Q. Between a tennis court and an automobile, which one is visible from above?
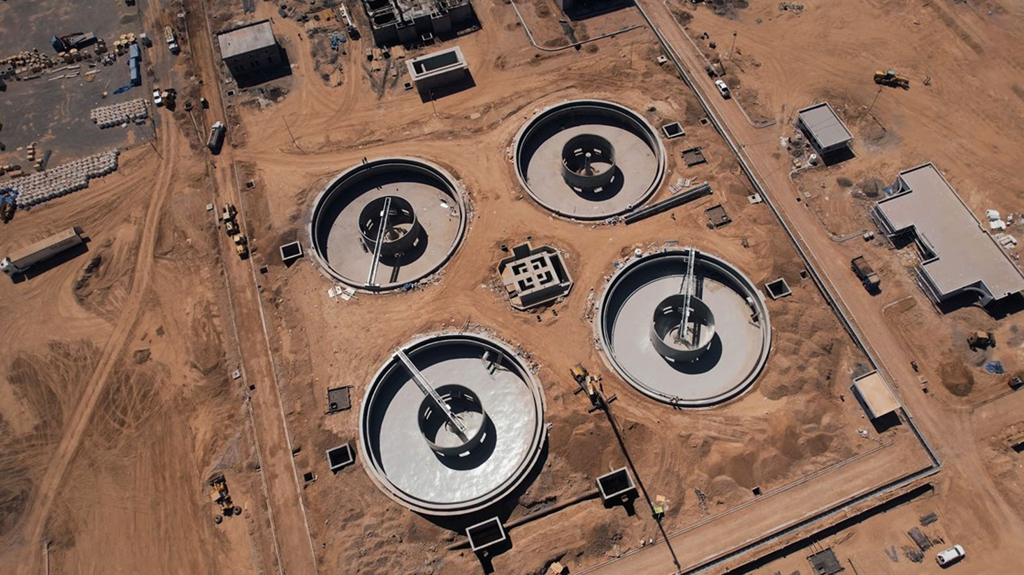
automobile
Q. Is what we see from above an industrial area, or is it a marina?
industrial area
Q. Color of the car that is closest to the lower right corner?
white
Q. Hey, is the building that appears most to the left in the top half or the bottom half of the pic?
top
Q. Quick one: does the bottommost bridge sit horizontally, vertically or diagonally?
diagonally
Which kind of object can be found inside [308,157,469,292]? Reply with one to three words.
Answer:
storage tank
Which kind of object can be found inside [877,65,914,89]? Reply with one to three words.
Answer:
work vehicle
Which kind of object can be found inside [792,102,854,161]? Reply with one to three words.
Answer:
building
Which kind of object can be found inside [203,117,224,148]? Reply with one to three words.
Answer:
truck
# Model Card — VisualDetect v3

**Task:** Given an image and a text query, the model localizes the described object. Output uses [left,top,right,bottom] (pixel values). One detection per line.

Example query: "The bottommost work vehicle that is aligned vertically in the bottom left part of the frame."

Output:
[210,475,231,514]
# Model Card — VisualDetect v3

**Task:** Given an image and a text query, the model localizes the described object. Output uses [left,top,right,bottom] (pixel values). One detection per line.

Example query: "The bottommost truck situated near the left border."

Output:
[0,224,91,278]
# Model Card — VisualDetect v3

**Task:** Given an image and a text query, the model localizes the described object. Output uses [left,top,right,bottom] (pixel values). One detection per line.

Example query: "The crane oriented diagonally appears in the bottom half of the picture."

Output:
[571,360,624,440]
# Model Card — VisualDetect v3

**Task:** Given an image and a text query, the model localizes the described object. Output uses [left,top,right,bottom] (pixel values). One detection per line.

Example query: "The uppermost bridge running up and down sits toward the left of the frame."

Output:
[363,196,395,288]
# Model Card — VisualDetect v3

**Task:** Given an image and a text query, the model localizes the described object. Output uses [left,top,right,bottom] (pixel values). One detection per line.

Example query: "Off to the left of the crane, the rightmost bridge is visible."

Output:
[390,345,466,432]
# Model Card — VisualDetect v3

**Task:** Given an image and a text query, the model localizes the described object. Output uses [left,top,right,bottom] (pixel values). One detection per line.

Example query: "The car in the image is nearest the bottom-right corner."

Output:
[932,542,970,566]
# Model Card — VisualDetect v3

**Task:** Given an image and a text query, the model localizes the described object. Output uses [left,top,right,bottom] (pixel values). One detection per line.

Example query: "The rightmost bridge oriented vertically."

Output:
[679,244,701,338]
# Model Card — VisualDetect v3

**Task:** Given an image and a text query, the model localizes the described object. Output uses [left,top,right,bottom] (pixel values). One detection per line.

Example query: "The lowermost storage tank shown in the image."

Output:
[355,333,548,519]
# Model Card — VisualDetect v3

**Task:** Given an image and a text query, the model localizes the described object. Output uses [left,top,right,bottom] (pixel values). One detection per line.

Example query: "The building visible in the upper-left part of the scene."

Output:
[217,19,284,78]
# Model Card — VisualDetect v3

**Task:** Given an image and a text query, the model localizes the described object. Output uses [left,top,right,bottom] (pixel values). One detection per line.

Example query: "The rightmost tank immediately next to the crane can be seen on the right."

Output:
[594,244,774,409]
